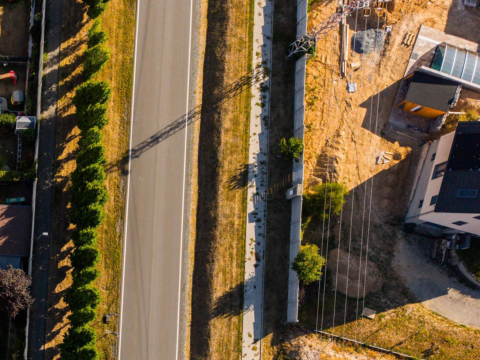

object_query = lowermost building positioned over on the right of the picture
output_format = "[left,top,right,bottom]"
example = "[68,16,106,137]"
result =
[389,120,480,240]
